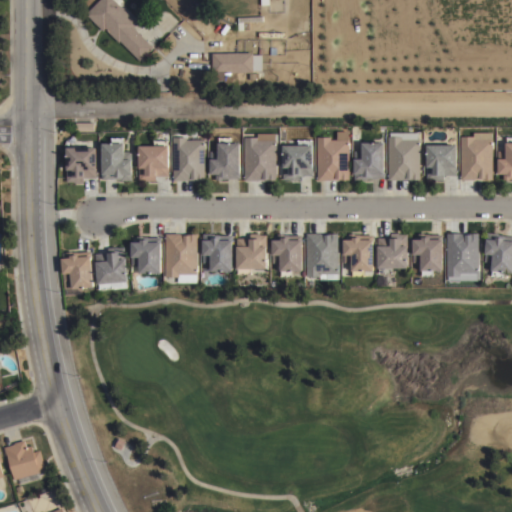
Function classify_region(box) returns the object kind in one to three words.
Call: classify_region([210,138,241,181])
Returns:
house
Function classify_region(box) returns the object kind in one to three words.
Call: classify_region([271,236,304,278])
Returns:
house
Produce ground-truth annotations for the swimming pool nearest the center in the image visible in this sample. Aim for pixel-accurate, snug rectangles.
[202,272,228,288]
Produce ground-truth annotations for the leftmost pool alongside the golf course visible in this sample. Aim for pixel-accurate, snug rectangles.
[133,274,160,292]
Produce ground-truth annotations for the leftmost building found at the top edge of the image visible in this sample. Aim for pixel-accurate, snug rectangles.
[86,0,152,60]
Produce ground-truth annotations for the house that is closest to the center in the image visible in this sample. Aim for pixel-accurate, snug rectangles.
[236,234,268,274]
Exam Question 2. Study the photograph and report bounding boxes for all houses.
[64,146,97,183]
[86,0,152,60]
[164,234,200,284]
[343,236,374,276]
[60,252,92,290]
[498,137,512,181]
[307,234,340,281]
[426,144,458,182]
[212,54,261,73]
[236,234,268,274]
[281,140,313,182]
[377,233,409,270]
[173,136,206,182]
[271,236,304,278]
[462,132,494,182]
[412,236,444,277]
[446,233,480,282]
[130,237,162,274]
[244,134,278,182]
[137,140,169,182]
[202,234,234,272]
[26,494,60,512]
[390,132,422,181]
[100,138,132,181]
[486,236,512,277]
[4,444,44,480]
[354,142,385,181]
[210,138,241,181]
[317,132,351,182]
[94,247,128,290]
